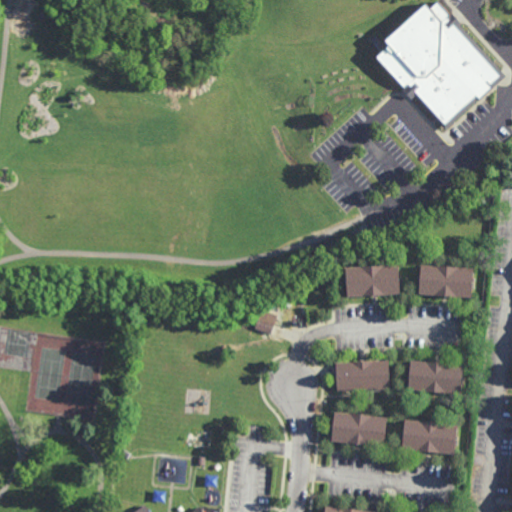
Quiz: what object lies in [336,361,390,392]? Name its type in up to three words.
house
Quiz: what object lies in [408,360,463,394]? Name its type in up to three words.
house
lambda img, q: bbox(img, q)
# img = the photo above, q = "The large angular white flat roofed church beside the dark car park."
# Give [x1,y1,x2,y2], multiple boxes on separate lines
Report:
[376,2,501,128]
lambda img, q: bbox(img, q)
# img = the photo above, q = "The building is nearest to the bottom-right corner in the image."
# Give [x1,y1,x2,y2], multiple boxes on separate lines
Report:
[402,418,460,454]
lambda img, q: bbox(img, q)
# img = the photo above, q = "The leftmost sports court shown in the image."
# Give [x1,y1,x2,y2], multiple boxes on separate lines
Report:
[0,326,38,372]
